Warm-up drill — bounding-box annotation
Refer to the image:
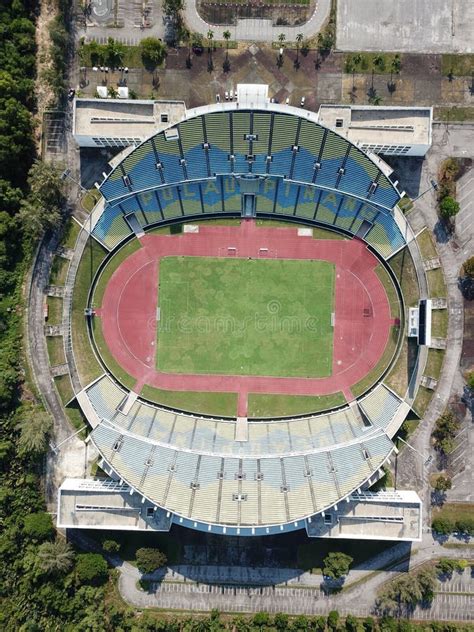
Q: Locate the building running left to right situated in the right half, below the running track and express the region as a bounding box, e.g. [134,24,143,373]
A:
[305,491,422,539]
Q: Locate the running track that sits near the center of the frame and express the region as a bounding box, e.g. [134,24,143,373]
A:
[96,216,396,415]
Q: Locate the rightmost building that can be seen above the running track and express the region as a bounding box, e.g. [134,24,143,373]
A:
[317,104,433,153]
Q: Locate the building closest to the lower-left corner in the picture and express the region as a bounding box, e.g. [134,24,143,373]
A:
[60,483,176,531]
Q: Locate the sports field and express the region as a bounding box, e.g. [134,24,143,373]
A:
[155,256,336,380]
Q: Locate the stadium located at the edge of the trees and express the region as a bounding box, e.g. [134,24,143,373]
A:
[45,83,447,533]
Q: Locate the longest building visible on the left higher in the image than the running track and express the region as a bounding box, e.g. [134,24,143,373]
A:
[72,98,188,144]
